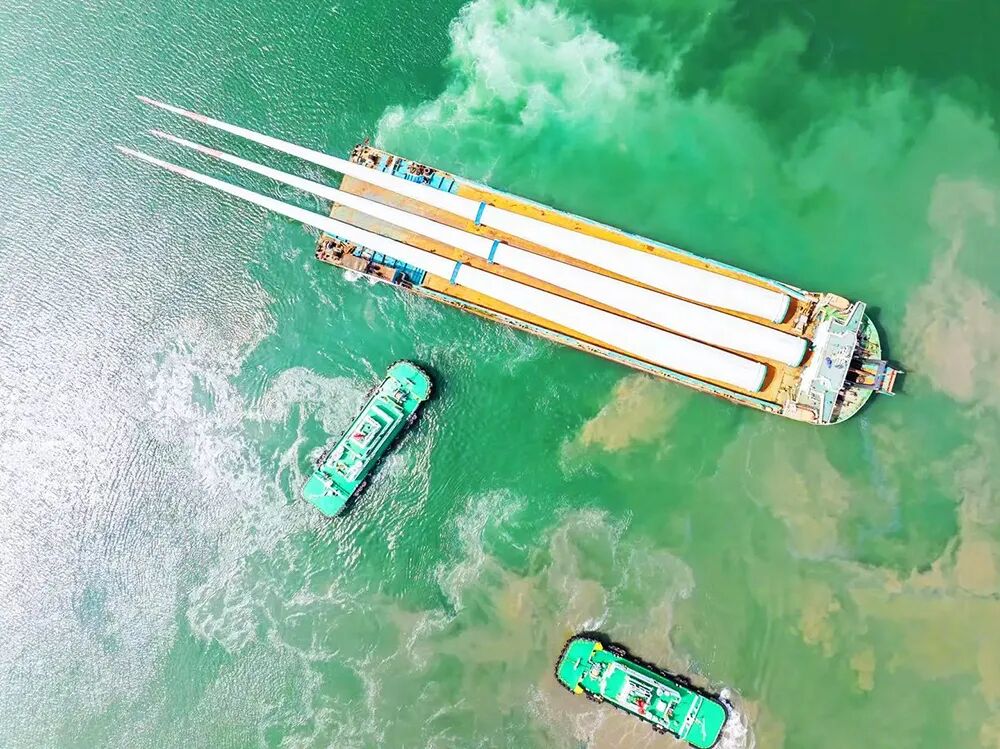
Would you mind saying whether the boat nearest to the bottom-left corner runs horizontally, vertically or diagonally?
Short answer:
diagonally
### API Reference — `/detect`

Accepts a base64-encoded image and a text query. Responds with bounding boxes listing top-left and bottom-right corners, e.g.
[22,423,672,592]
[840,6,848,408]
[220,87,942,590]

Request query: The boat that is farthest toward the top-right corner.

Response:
[824,295,848,308]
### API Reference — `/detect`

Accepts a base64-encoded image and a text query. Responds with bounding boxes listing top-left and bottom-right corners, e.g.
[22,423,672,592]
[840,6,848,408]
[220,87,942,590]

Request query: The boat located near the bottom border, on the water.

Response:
[555,631,726,746]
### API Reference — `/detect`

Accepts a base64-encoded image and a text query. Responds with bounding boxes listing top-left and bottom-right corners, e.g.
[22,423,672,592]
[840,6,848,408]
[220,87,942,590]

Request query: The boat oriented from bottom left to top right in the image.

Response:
[303,356,438,515]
